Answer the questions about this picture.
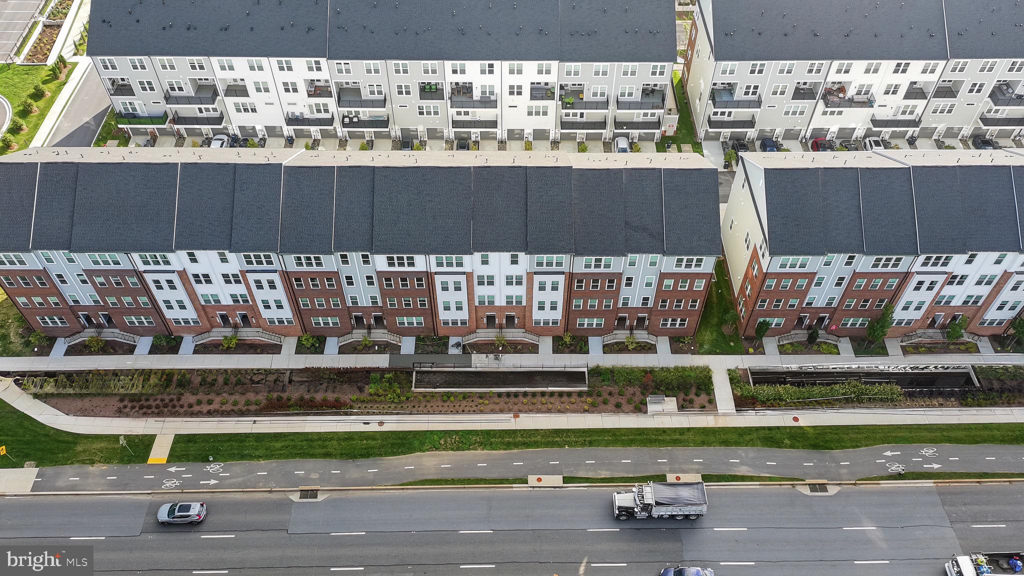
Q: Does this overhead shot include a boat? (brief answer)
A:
No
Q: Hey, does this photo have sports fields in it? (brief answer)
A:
No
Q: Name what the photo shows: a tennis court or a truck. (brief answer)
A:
truck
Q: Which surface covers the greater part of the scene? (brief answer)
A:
buildings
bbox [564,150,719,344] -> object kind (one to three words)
house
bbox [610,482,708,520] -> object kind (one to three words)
truck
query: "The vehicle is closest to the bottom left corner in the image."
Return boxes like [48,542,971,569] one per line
[159,501,209,526]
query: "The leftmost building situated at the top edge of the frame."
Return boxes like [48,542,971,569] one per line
[88,0,180,138]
